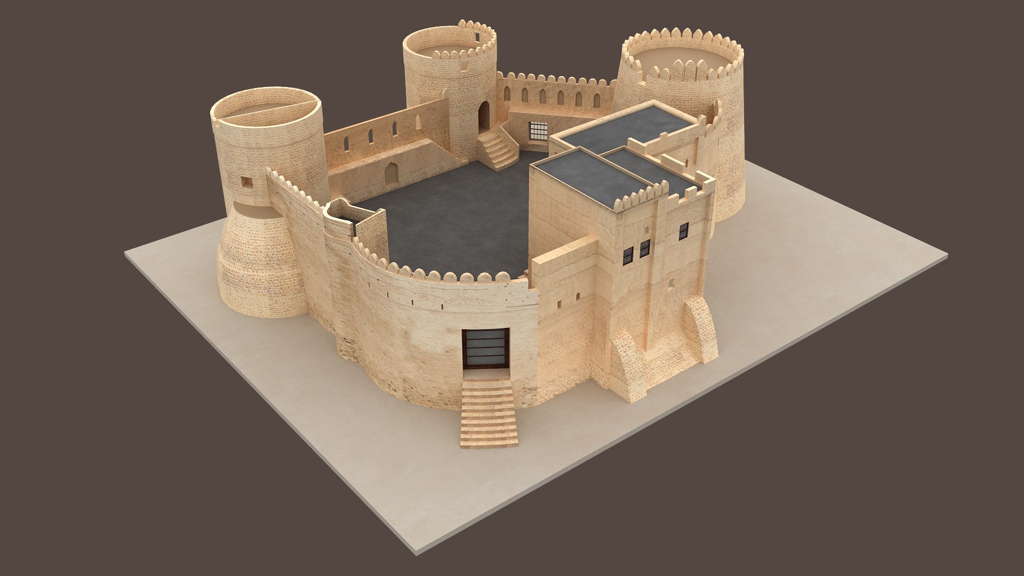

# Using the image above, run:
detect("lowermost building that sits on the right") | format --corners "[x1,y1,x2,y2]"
[528,138,718,403]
